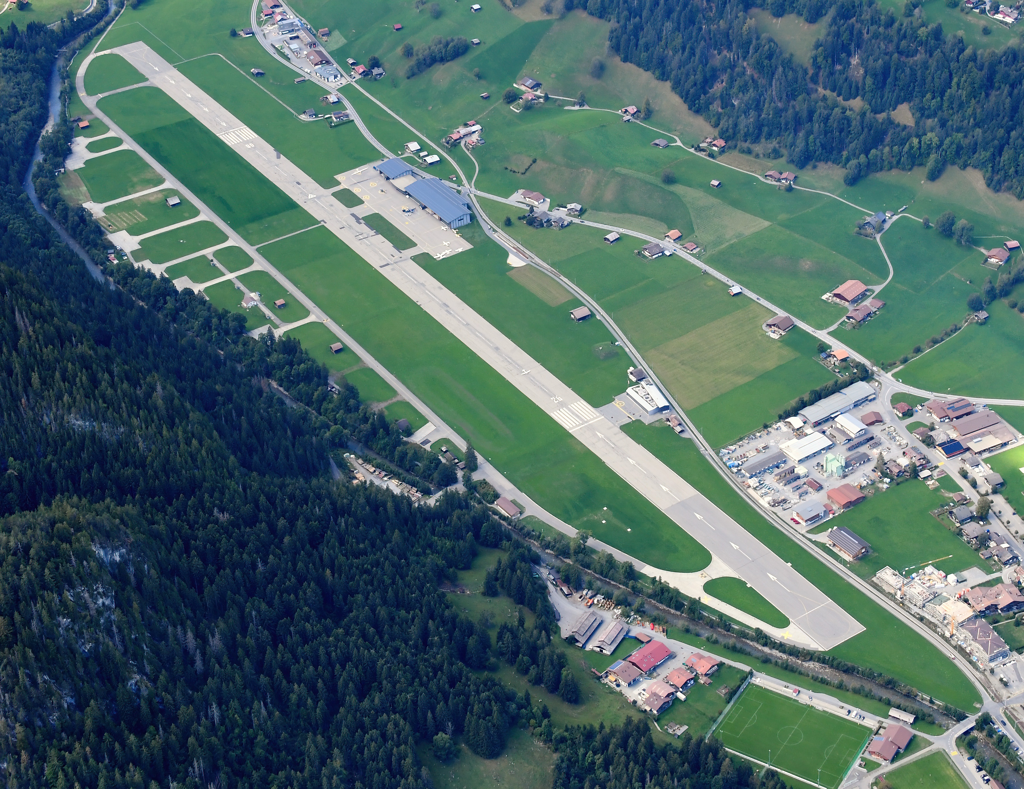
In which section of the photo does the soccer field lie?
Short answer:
bottom right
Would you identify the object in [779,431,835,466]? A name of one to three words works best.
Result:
building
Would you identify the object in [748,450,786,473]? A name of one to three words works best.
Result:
shed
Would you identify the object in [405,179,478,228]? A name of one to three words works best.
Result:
hangar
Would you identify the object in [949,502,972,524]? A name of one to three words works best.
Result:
house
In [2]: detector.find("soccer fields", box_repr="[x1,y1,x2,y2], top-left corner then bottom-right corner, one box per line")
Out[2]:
[703,682,875,789]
